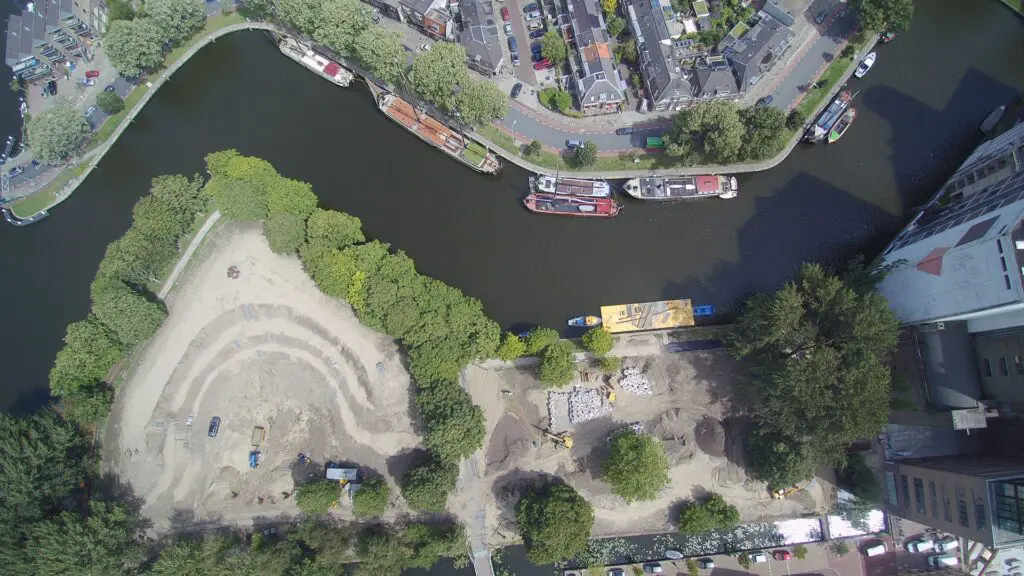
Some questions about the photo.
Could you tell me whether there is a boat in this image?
Yes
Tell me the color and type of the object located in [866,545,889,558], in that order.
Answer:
white vehicle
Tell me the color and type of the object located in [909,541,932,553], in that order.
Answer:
white vehicle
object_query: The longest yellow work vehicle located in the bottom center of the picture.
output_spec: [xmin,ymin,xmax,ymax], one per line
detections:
[531,422,577,450]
